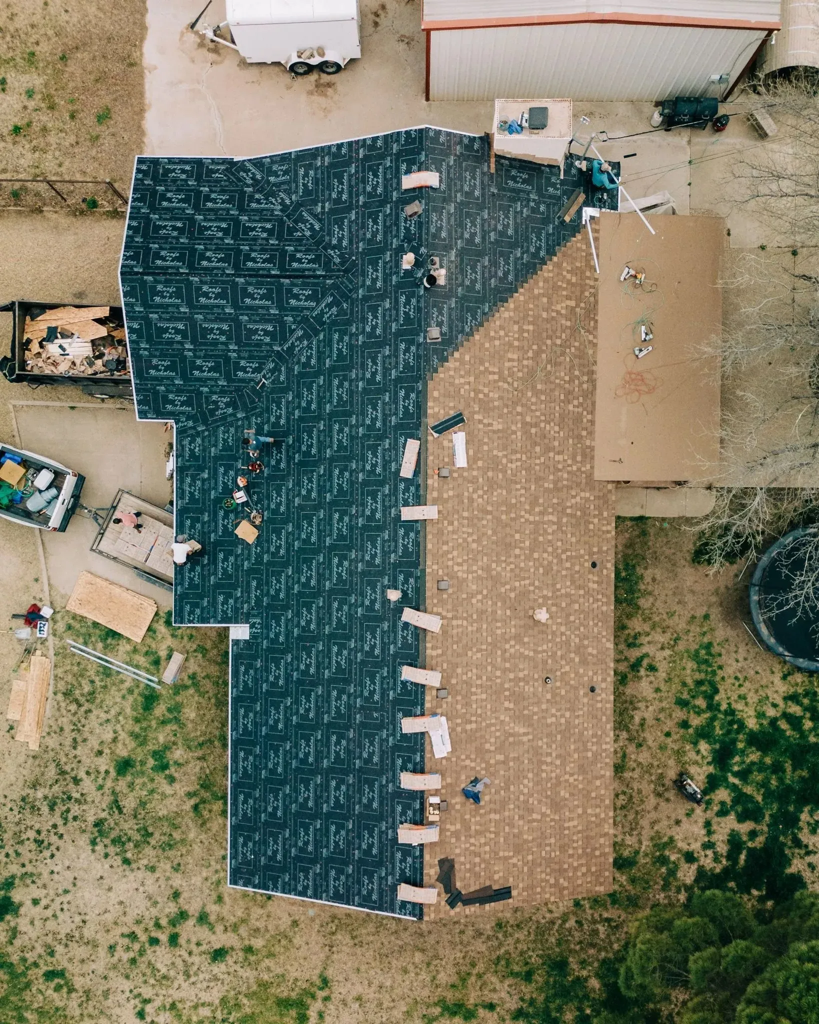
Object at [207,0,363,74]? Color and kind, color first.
white trailer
